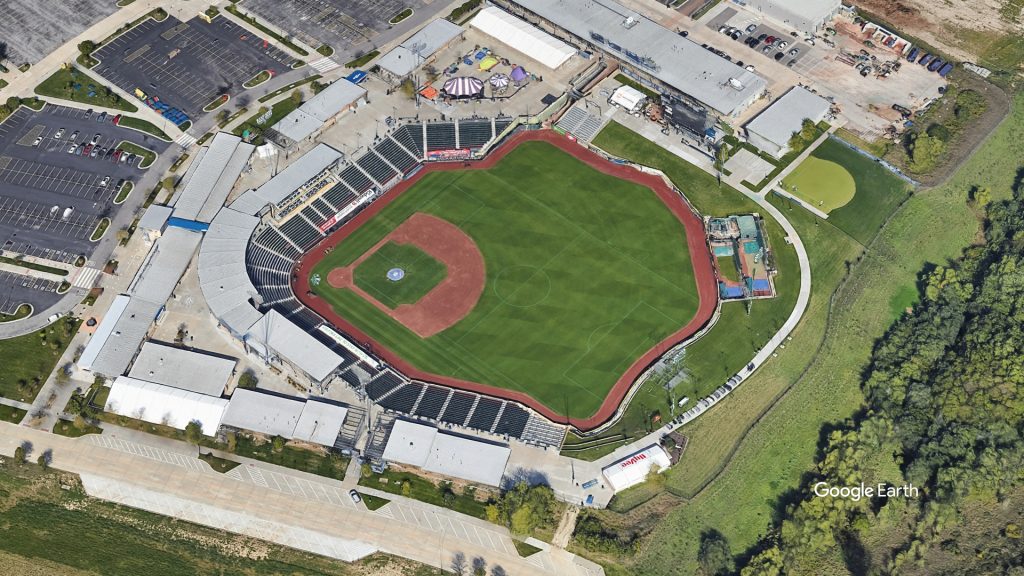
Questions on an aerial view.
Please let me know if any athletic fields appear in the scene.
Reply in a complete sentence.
Yes, the picture does show an athletic field.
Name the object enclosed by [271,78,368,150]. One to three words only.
building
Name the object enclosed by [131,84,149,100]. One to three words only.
vehicle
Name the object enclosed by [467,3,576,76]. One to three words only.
tent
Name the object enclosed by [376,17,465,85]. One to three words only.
building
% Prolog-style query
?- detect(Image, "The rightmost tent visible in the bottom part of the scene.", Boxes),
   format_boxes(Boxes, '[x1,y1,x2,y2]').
[595,441,671,497]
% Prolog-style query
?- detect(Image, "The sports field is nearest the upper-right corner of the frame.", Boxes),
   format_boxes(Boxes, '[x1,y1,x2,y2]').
[772,132,921,247]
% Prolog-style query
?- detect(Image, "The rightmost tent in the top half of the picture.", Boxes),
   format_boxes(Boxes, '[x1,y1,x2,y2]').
[611,87,644,114]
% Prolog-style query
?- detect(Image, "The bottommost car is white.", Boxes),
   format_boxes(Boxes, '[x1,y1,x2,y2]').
[349,488,361,503]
